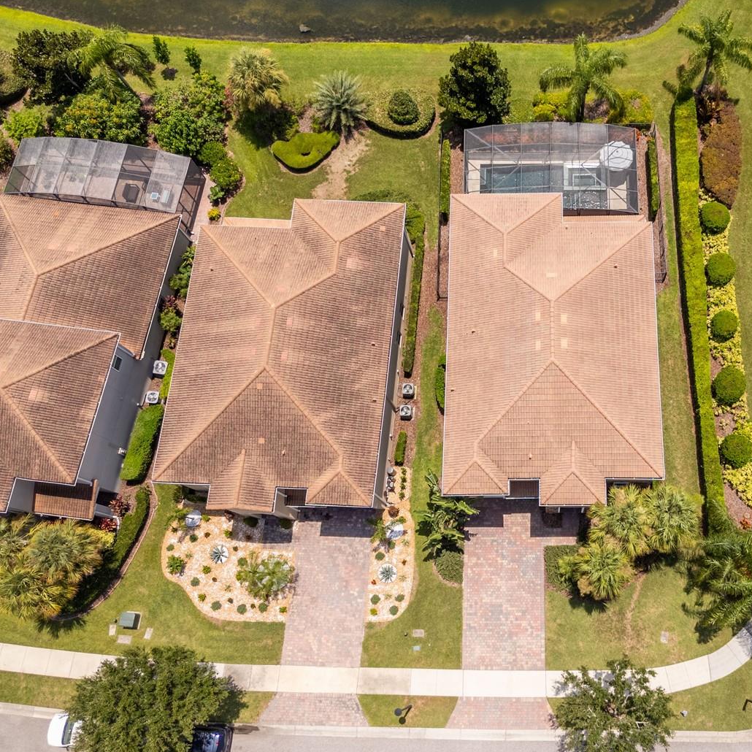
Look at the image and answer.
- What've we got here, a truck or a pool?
pool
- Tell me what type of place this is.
residential area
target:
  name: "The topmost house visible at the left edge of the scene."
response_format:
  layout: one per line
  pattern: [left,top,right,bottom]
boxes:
[0,194,192,524]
